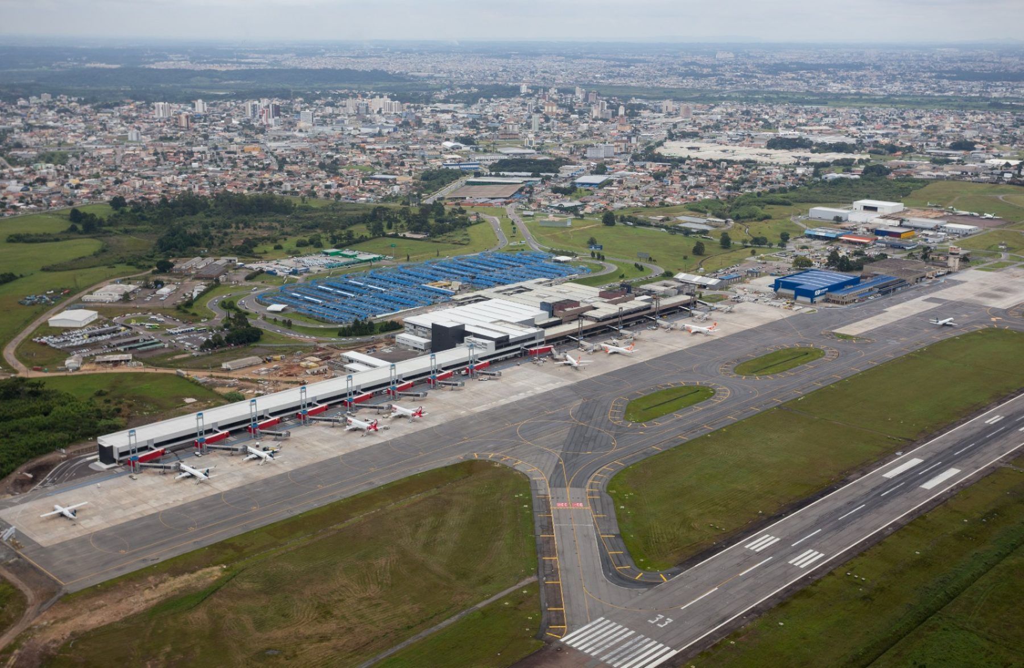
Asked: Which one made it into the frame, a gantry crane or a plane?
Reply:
plane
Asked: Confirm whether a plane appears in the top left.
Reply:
No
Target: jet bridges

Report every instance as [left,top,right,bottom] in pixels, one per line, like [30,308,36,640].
[244,416,292,440]
[384,380,431,400]
[424,369,468,389]
[675,306,716,318]
[295,403,351,426]
[189,430,250,455]
[696,298,735,310]
[564,335,606,349]
[123,446,183,474]
[340,391,395,413]
[464,359,504,379]
[521,343,575,357]
[603,325,646,338]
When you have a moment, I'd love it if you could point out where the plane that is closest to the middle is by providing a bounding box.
[554,354,594,367]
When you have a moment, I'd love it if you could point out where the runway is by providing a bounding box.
[550,393,1024,668]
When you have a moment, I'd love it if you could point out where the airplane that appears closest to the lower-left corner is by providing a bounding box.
[43,501,88,516]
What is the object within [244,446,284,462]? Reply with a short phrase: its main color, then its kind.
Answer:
white airplane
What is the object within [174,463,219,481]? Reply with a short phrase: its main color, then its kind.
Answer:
white airplane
